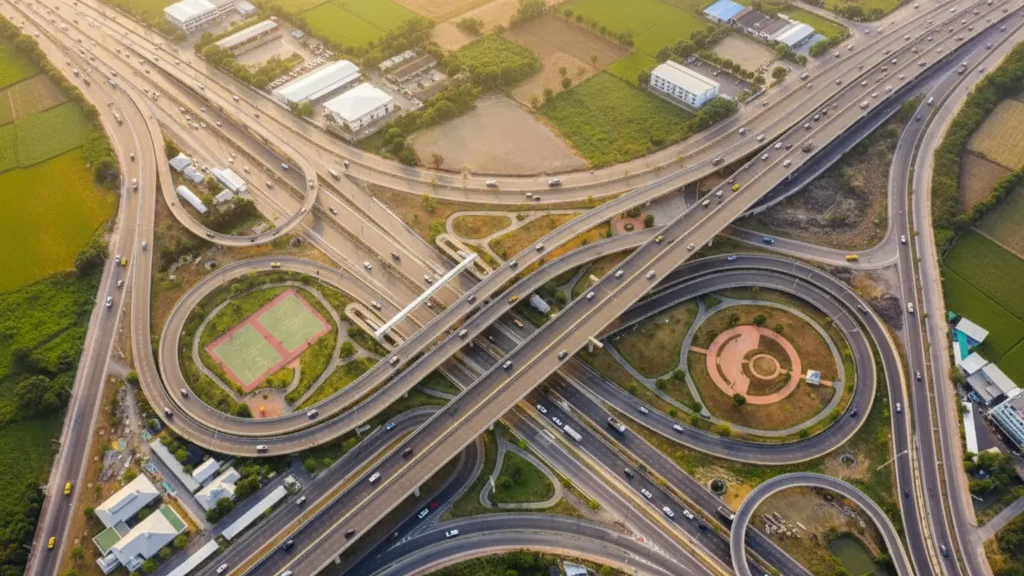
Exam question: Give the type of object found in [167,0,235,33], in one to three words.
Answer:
building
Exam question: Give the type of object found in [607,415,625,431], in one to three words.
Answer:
vehicle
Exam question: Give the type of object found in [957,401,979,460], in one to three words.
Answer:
shed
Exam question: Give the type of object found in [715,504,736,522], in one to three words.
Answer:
vehicle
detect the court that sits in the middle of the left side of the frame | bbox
[205,288,332,392]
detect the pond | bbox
[830,532,884,576]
